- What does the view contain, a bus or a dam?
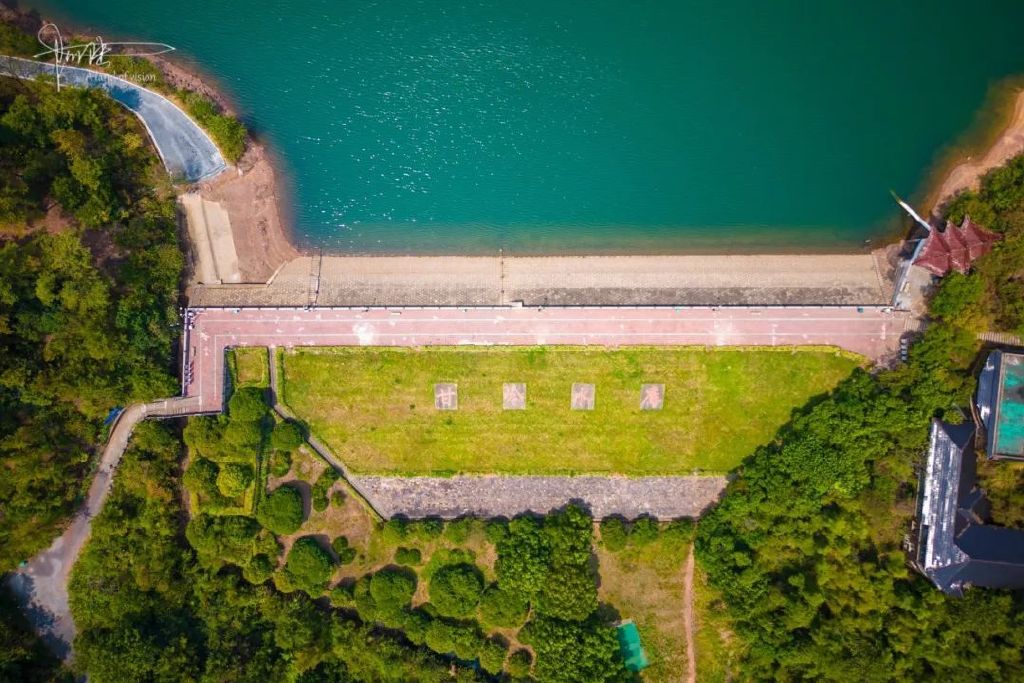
dam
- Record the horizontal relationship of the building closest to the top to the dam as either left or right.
to the right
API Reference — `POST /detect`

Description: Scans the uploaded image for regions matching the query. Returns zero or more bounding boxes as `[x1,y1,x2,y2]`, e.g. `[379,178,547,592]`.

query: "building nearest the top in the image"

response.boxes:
[906,213,1002,279]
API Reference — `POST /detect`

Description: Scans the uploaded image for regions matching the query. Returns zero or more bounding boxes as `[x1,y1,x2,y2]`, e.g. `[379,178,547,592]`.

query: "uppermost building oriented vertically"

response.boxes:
[975,348,1024,461]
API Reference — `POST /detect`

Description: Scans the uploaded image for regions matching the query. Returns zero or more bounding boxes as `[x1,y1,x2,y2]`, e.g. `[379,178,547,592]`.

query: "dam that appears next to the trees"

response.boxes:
[156,240,911,520]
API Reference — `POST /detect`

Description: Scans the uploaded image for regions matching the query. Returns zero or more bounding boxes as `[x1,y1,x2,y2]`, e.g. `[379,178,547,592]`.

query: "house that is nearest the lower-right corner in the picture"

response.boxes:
[917,419,1024,597]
